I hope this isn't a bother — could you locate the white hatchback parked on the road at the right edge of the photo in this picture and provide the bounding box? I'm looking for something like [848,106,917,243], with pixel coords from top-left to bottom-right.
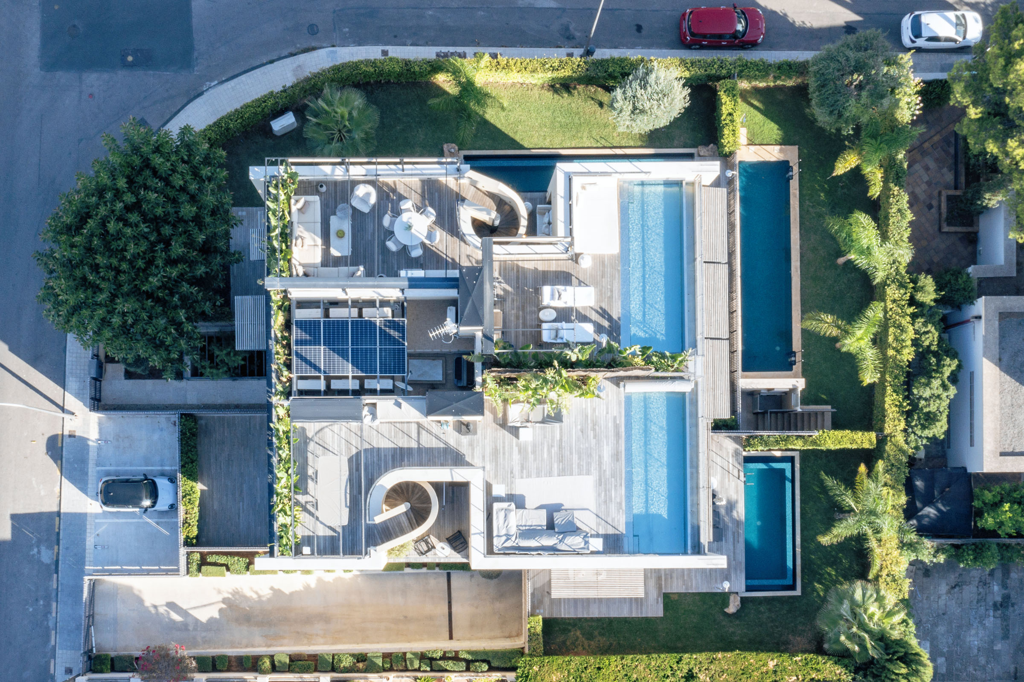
[901,3,989,48]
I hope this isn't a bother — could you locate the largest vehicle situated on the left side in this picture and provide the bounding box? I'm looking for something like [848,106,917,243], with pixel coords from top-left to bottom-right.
[94,471,176,516]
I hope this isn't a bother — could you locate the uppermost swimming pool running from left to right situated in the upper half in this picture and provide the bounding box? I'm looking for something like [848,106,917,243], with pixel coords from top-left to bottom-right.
[461,150,699,193]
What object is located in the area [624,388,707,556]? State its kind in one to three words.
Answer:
swimming pool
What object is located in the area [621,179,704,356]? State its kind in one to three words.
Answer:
swimming pool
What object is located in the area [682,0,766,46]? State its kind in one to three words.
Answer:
car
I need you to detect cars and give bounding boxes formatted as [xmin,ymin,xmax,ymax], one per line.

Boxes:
[94,471,176,516]
[682,0,766,46]
[901,3,989,48]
